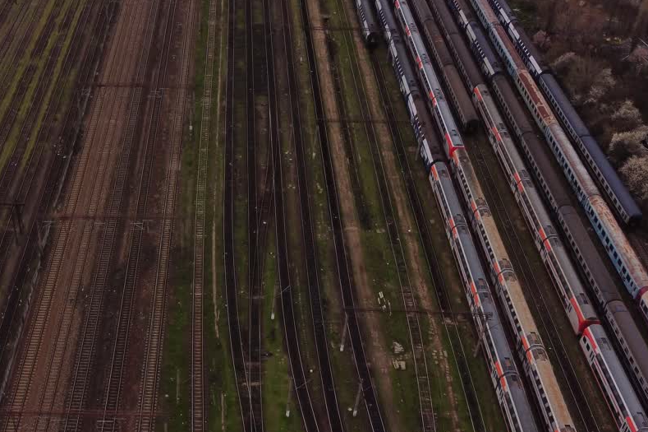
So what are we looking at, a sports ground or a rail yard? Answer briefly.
rail yard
